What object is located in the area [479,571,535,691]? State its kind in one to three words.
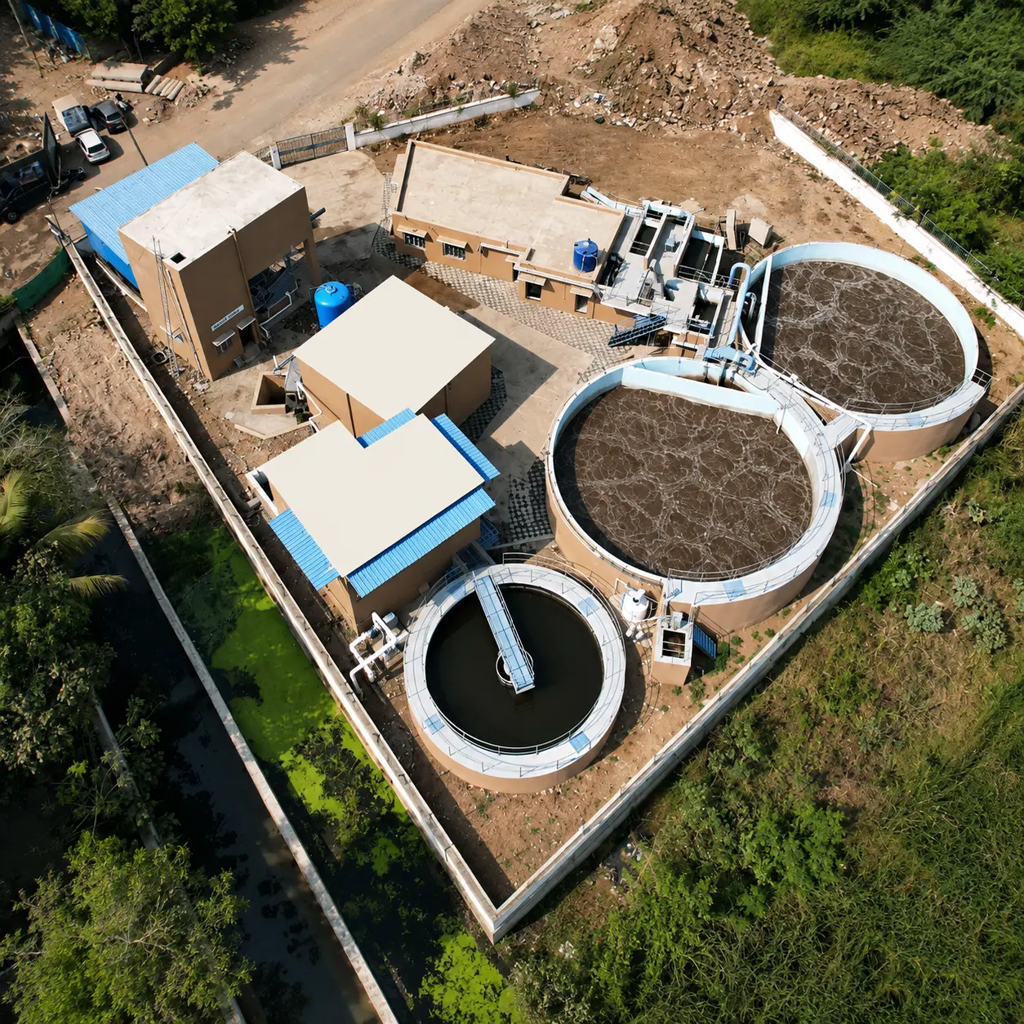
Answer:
bridge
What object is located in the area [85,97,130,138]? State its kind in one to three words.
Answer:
car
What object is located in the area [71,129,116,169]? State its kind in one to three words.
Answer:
car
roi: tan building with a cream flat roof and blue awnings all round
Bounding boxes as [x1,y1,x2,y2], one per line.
[259,412,500,629]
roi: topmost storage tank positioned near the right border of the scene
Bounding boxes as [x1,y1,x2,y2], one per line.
[727,232,992,467]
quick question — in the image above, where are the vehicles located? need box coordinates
[0,158,69,219]
[85,97,130,138]
[47,87,94,139]
[71,129,116,169]
[112,91,126,113]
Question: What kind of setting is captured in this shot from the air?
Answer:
industrial area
